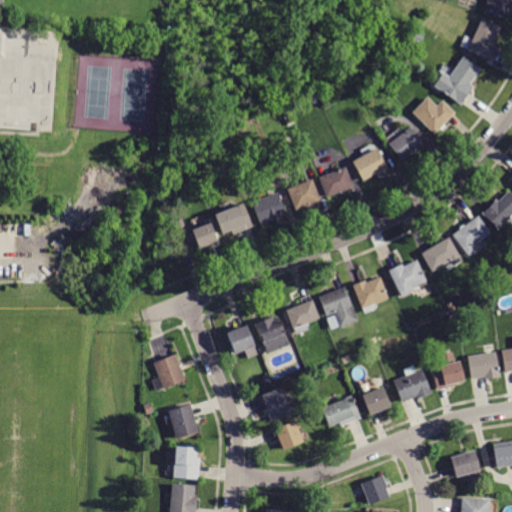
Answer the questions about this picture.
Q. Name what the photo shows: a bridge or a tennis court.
tennis court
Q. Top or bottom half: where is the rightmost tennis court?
top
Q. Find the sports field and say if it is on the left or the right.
left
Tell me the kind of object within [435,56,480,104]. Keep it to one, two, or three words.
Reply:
house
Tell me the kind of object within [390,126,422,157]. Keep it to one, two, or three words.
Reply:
house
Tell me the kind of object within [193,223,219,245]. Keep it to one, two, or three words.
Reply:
building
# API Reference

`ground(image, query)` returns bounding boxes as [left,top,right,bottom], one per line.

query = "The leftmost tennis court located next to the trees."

[74,56,118,130]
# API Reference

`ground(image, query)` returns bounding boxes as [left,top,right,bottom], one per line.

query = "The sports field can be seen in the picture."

[0,309,86,512]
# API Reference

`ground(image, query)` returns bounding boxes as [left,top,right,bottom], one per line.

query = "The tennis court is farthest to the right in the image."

[114,58,156,132]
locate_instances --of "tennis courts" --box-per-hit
[74,56,118,130]
[114,58,156,132]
